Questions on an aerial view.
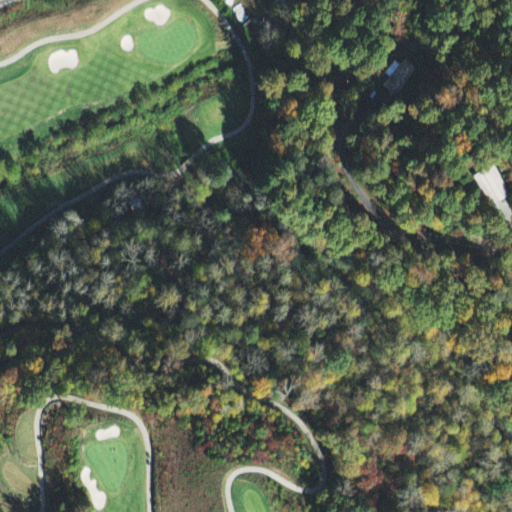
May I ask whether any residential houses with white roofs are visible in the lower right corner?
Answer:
No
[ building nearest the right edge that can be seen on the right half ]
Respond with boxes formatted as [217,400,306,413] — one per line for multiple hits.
[474,166,505,202]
